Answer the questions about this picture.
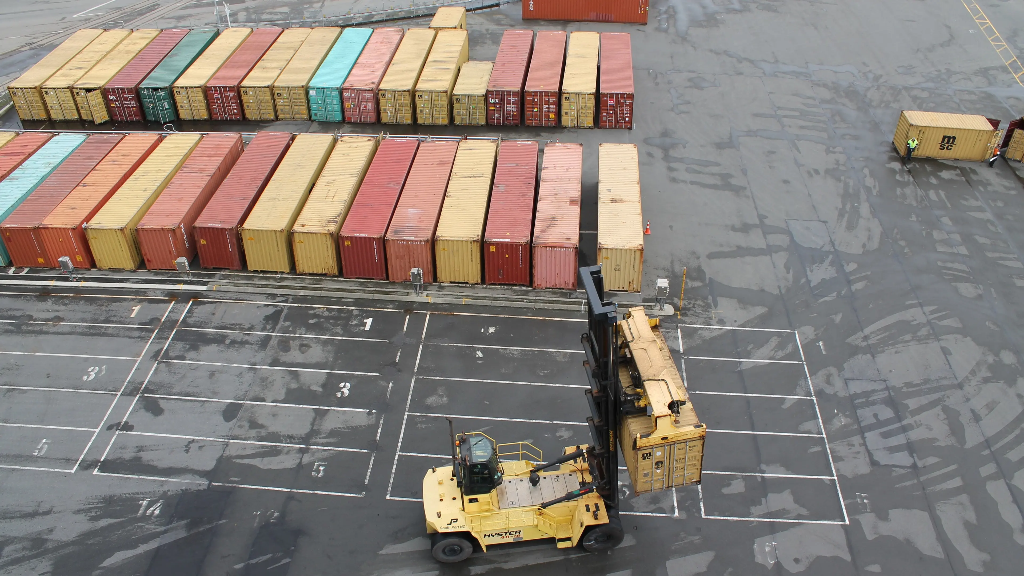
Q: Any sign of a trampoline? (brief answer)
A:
No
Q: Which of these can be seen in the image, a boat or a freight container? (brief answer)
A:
freight container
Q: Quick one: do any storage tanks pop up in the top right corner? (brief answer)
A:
No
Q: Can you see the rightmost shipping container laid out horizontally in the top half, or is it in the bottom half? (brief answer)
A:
top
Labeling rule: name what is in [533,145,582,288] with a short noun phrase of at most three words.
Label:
shipping container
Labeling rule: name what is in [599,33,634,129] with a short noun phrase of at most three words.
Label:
shipping container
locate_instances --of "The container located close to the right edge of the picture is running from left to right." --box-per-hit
[898,110,1002,162]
